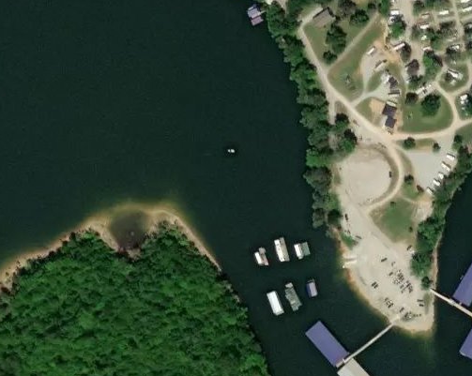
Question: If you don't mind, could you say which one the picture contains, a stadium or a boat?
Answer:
boat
